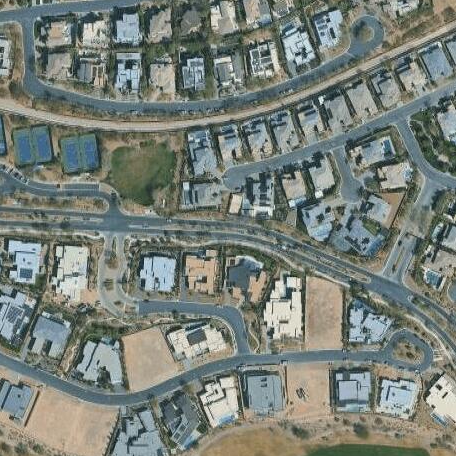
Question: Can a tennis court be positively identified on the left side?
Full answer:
Yes, a tennis court shows up on the left side.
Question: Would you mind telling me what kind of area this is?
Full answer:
The area seen from above is a residential area.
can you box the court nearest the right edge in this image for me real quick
[60,133,100,173]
